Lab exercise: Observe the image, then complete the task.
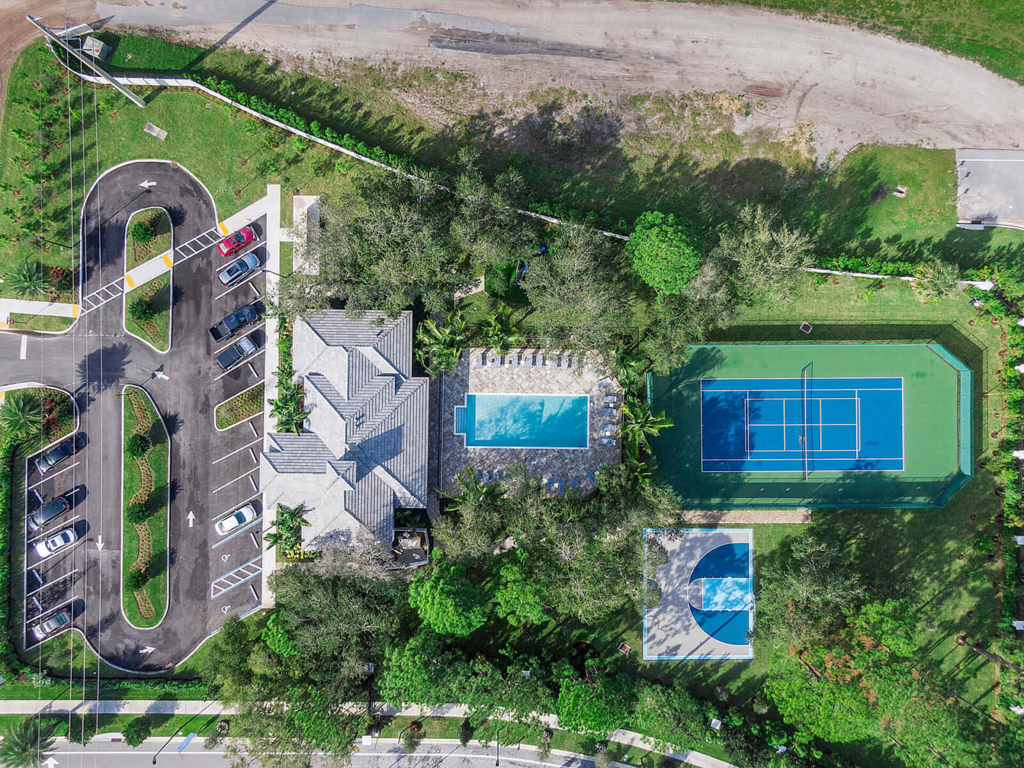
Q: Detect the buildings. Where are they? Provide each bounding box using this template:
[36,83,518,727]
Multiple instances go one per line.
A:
[259,309,429,554]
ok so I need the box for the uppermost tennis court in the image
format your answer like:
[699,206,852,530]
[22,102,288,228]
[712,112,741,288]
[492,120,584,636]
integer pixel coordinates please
[646,345,959,504]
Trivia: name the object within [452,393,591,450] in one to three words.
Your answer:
swimming pool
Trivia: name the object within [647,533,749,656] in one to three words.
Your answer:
basketball court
